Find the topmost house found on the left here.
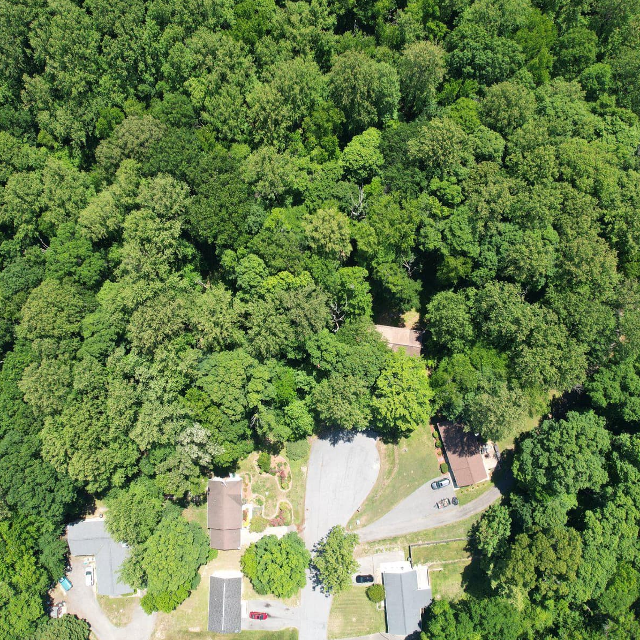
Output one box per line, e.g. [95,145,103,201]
[208,478,244,551]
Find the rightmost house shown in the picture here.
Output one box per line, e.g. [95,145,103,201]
[437,418,489,489]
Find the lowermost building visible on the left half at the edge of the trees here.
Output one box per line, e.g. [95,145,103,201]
[208,573,242,636]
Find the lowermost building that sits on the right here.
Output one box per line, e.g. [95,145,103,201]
[384,562,433,637]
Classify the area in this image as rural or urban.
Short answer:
rural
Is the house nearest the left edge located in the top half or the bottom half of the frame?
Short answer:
bottom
